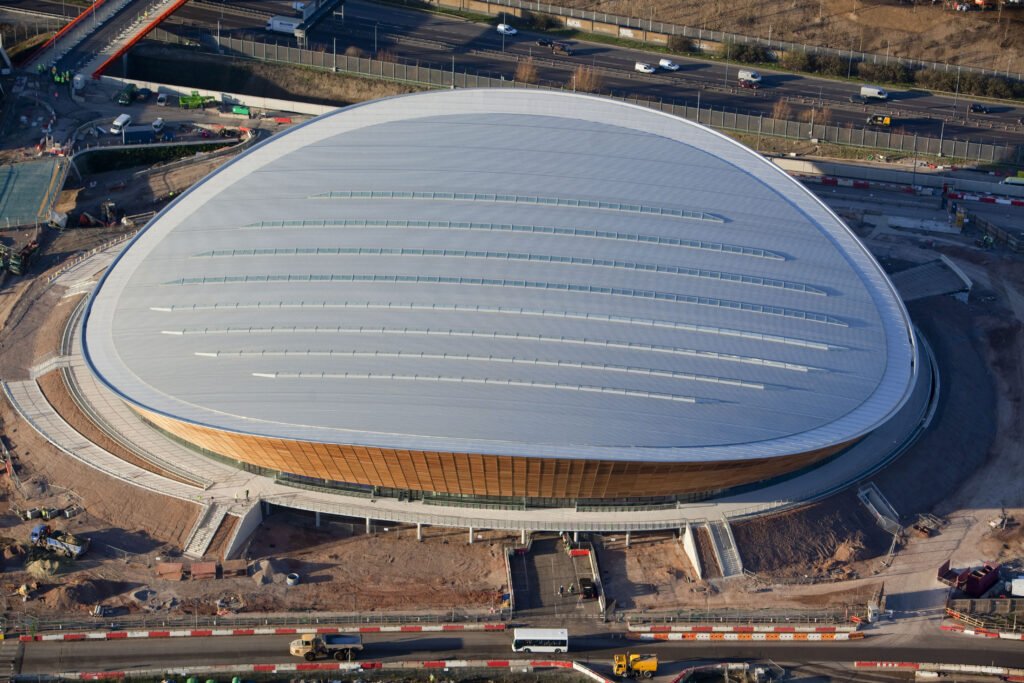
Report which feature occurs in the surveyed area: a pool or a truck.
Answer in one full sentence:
The image shows a truck.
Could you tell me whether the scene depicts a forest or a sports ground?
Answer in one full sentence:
What you see here is a sports ground.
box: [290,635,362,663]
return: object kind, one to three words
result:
truck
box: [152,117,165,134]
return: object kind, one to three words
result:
vehicle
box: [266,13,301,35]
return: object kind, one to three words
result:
truck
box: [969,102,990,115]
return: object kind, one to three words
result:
vehicle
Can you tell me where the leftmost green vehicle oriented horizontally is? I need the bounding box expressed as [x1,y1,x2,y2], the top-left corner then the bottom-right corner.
[176,95,211,112]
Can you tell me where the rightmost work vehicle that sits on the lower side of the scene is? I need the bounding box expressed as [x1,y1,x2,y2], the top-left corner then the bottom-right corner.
[992,512,1019,531]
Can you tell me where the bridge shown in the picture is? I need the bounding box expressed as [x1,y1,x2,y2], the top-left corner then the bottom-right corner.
[14,0,195,86]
